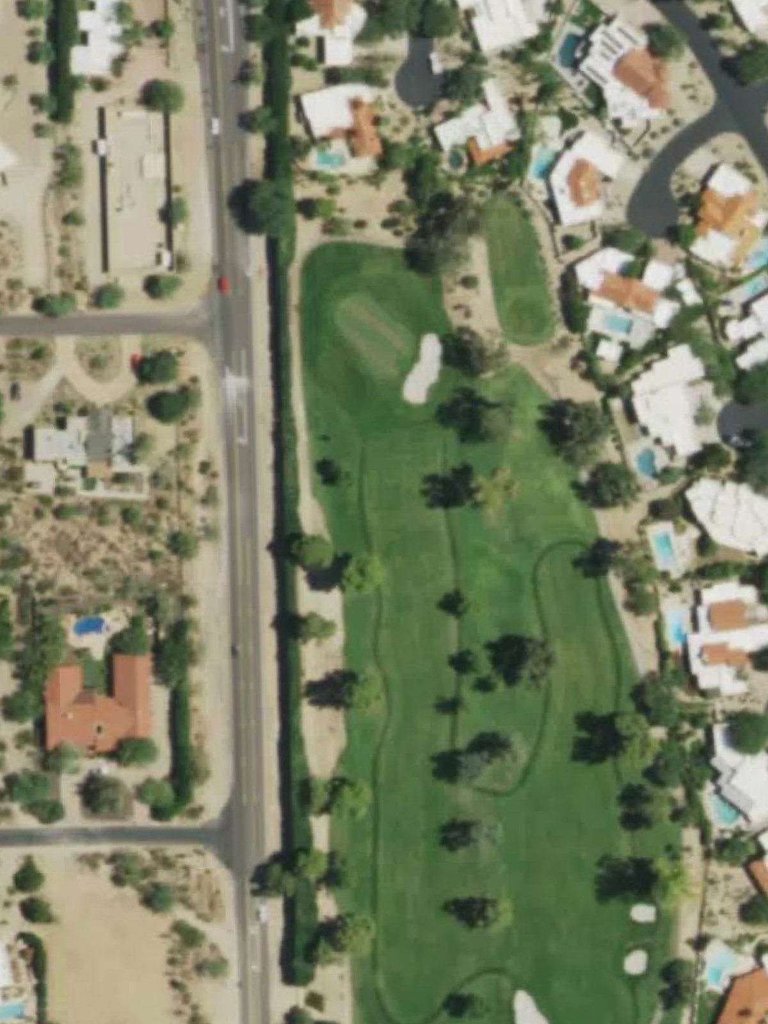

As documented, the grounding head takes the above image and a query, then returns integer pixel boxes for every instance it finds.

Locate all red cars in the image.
[131,355,139,370]
[219,276,227,293]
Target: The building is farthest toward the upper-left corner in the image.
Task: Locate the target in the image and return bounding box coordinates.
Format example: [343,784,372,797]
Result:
[73,0,125,73]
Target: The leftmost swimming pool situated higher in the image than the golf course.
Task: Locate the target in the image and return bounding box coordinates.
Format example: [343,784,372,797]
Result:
[316,152,344,166]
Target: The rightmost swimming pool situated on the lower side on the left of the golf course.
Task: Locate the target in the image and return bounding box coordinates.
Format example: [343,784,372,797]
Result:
[73,615,106,637]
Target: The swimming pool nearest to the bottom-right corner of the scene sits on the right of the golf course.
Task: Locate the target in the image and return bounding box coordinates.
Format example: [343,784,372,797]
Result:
[705,947,737,986]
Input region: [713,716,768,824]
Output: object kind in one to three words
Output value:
house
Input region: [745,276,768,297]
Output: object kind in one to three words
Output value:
swimming pool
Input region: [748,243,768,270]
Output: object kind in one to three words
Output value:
swimming pool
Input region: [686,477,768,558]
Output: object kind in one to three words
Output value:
house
